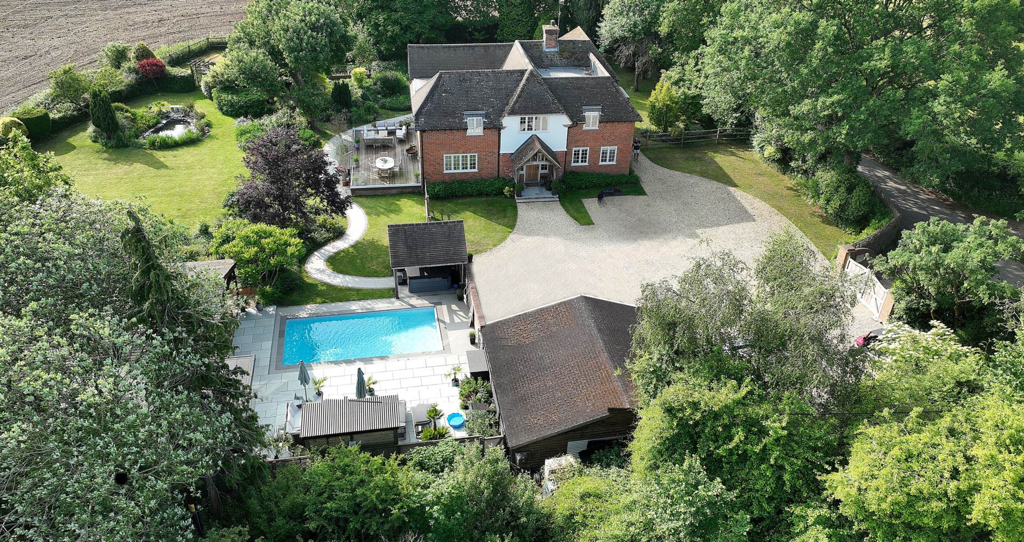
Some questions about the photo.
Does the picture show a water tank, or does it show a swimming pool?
swimming pool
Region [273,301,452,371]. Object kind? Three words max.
swimming pool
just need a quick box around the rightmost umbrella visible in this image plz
[353,364,366,397]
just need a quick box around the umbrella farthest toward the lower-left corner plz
[296,358,311,395]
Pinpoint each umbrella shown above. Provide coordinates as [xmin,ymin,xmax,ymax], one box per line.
[296,358,311,395]
[353,364,366,397]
